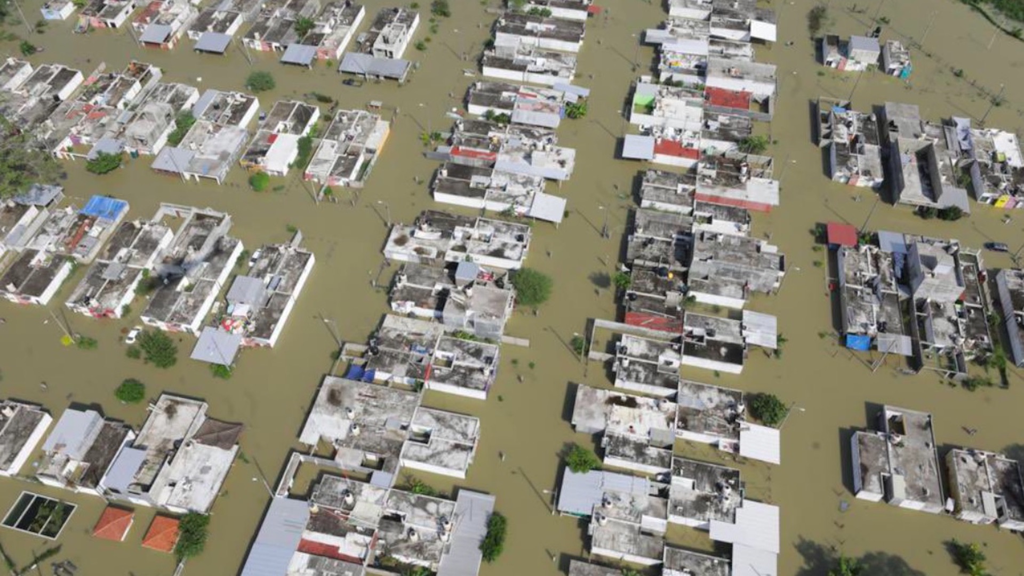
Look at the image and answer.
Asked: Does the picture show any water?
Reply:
Yes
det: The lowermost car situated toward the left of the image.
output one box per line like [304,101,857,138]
[125,326,143,346]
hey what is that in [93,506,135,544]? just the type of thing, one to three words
building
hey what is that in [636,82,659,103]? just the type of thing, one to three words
shed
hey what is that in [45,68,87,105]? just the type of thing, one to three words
house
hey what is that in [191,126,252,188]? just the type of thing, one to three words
house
